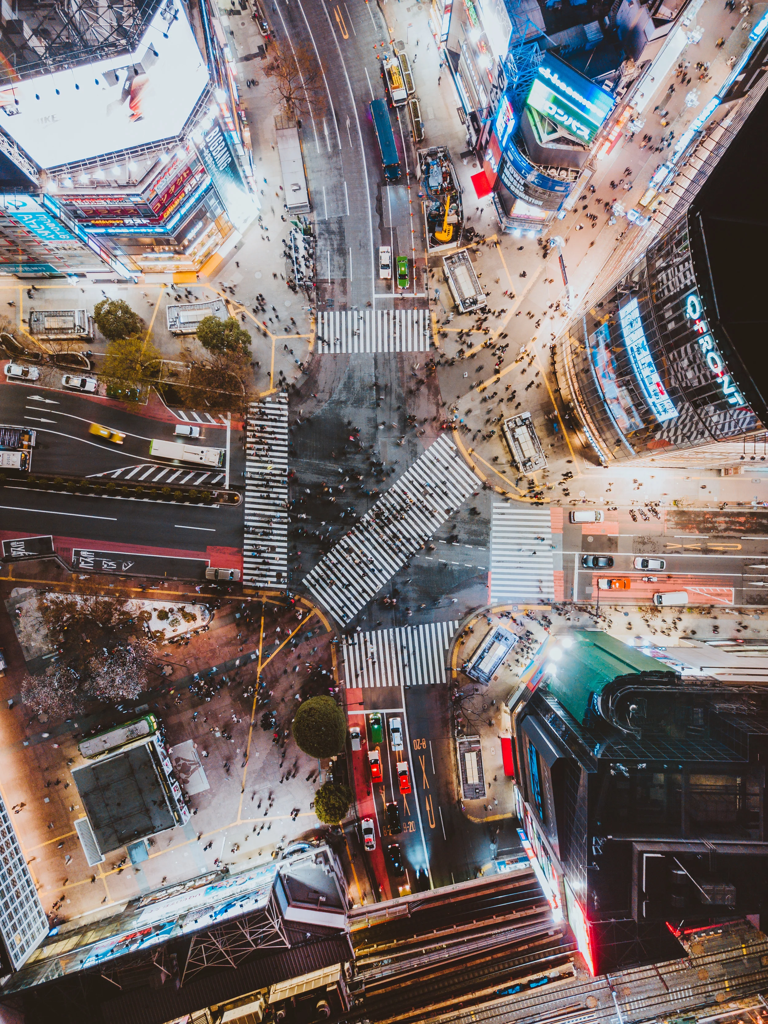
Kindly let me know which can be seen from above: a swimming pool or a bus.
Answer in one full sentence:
The image shows a bus.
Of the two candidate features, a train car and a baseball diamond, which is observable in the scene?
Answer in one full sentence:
The one in the frame is a train car.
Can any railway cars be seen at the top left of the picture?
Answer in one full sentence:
No, the scene shows no railway car at the top left of the picture.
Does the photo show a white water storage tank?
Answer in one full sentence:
No, the scene contains no white water storage tank.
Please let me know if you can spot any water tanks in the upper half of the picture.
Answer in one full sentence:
No, the scene shows no water tank in the upper half of the picture.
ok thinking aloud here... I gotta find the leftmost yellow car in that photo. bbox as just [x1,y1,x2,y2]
[91,424,125,443]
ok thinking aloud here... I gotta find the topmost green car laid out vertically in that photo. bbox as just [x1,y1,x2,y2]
[396,257,410,290]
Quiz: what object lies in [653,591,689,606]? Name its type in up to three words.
vehicle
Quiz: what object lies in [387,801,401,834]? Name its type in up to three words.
car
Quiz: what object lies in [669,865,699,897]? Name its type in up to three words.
water tank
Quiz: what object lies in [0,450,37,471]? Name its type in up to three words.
bus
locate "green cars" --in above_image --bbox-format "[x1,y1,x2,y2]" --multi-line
[370,711,383,743]
[396,257,410,290]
